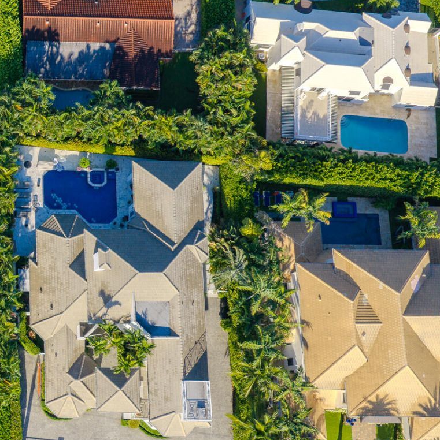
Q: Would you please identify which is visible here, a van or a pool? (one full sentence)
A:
Visible in the photo is a pool.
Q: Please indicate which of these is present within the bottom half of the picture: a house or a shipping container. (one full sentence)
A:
There is a house within the bottom half of the picture.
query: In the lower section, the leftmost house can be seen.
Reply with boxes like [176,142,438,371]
[28,159,212,437]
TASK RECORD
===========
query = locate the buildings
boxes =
[269,206,440,440]
[28,159,212,437]
[22,0,174,91]
[243,0,439,143]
